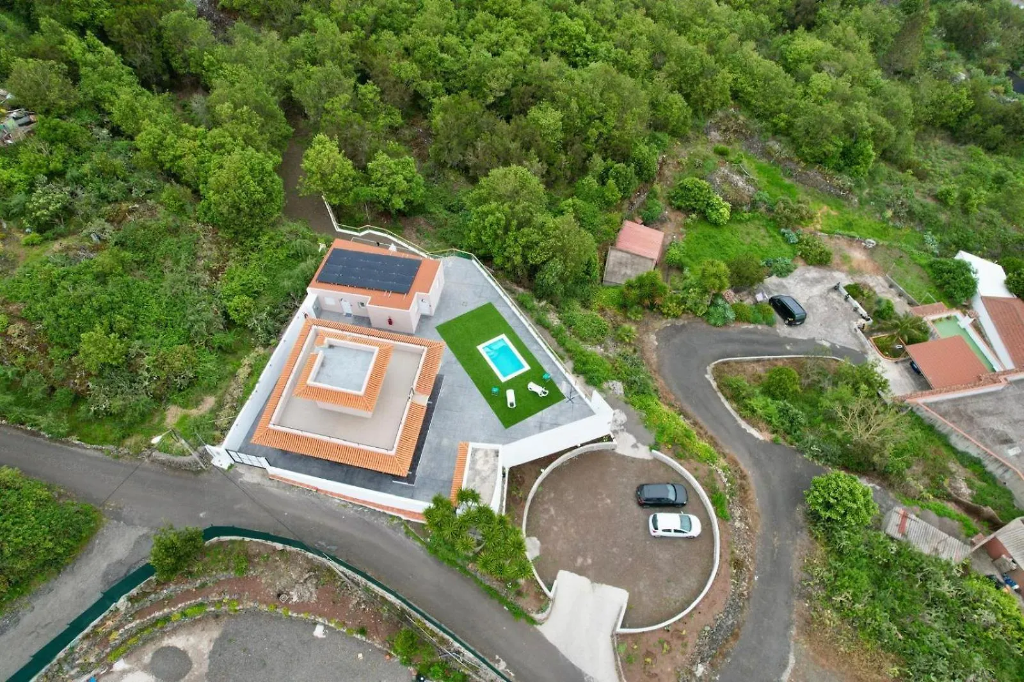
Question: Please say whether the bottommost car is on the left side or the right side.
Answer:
right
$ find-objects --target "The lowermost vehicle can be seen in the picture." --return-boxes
[647,513,701,541]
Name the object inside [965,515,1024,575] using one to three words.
building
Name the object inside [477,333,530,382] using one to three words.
swimming pool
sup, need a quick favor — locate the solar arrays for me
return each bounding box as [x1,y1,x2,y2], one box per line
[318,247,420,298]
